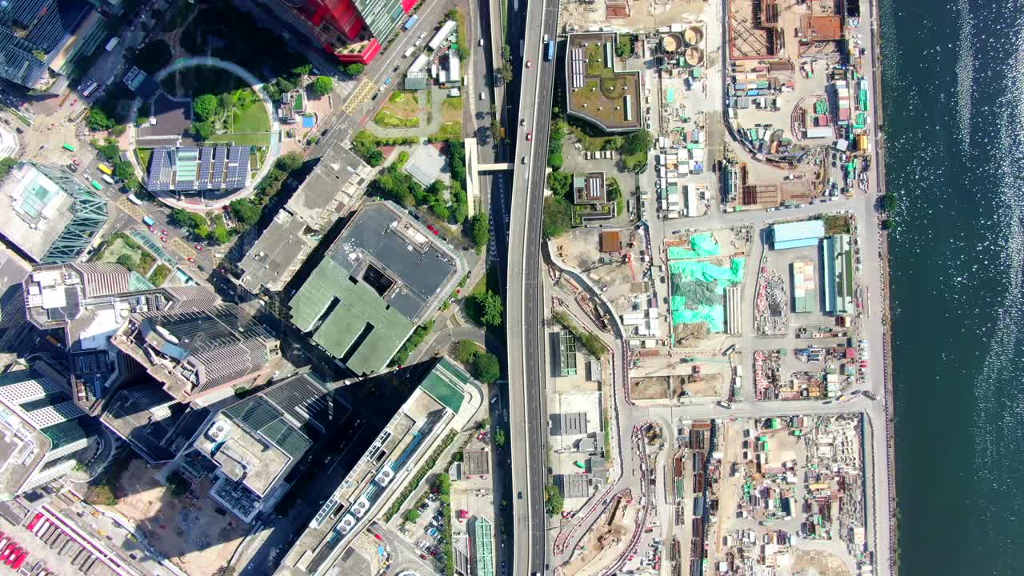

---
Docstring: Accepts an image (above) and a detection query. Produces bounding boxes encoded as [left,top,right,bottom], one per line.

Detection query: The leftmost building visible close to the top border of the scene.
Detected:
[0,0,120,99]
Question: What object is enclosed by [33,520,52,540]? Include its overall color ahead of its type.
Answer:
white vehicle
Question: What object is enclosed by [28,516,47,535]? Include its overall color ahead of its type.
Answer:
white vehicle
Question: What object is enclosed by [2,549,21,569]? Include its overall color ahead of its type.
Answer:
red vehicle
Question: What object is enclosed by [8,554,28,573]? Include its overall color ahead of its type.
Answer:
red vehicle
